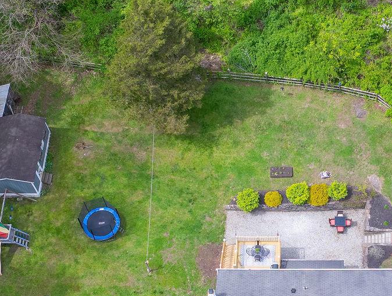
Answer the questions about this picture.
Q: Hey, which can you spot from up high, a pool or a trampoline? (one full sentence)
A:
Visible in the photo is a trampoline.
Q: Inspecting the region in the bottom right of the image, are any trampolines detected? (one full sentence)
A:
No, I can find no trampoline in the bottom right of the image.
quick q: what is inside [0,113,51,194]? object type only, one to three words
shed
